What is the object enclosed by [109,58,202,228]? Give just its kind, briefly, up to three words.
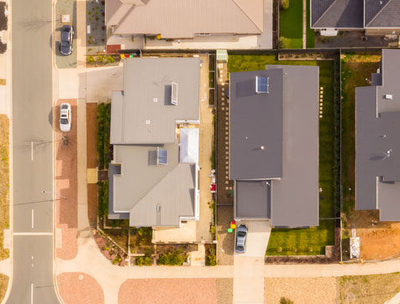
house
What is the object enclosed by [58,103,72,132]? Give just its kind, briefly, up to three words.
car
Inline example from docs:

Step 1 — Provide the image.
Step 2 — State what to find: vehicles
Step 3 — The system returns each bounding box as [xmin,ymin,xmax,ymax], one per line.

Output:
[60,24,74,55]
[58,103,72,132]
[233,225,247,254]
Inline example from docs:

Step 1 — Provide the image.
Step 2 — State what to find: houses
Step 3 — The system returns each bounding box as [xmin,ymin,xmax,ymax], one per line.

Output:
[356,49,400,224]
[109,58,202,228]
[229,66,319,229]
[106,0,263,42]
[311,0,400,33]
